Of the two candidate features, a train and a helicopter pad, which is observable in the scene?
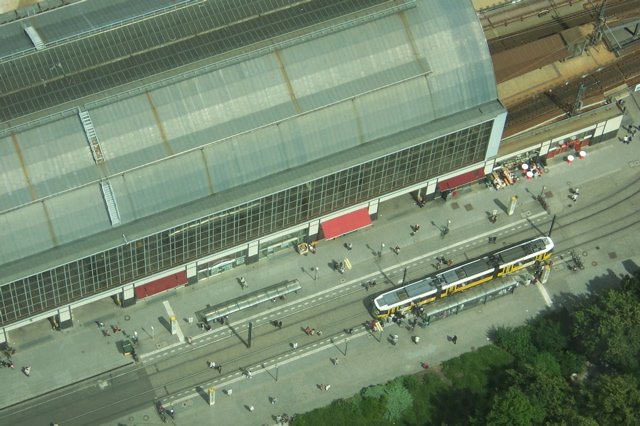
train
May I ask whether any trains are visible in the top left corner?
No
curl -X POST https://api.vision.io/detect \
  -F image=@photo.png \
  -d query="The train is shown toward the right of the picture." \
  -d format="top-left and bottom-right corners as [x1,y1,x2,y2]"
[369,235,554,319]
